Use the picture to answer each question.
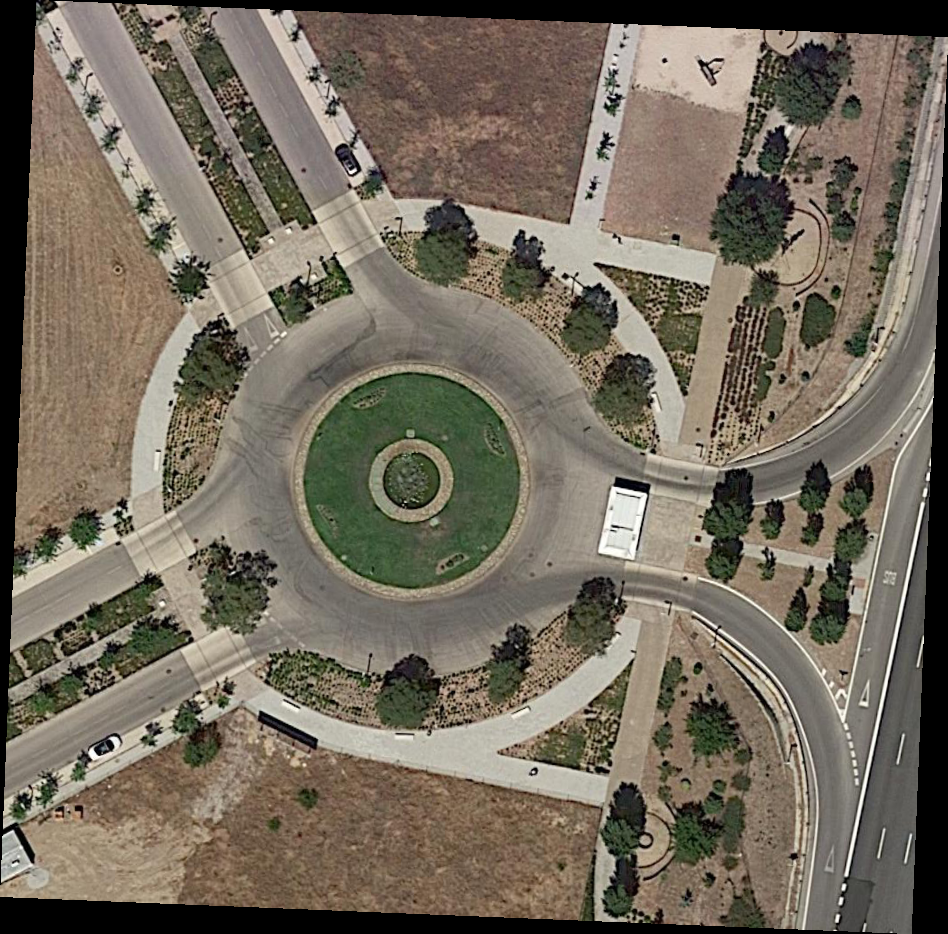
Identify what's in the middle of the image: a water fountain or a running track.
water fountain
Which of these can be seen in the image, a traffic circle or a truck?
traffic circle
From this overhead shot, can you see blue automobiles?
No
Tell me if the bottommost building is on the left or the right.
left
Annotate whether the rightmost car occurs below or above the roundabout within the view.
above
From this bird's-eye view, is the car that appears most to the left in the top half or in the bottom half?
bottom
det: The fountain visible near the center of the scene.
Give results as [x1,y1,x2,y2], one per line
[369,439,454,522]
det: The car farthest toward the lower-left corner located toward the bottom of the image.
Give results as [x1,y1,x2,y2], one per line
[89,737,119,760]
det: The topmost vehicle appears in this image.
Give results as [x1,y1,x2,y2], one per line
[336,145,359,176]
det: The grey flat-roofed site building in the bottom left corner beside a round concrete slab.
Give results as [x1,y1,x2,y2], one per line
[0,830,31,884]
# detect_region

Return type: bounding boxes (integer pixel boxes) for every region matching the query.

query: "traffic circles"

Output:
[178,247,649,677]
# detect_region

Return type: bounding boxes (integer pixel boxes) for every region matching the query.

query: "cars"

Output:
[89,737,119,760]
[336,145,359,176]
